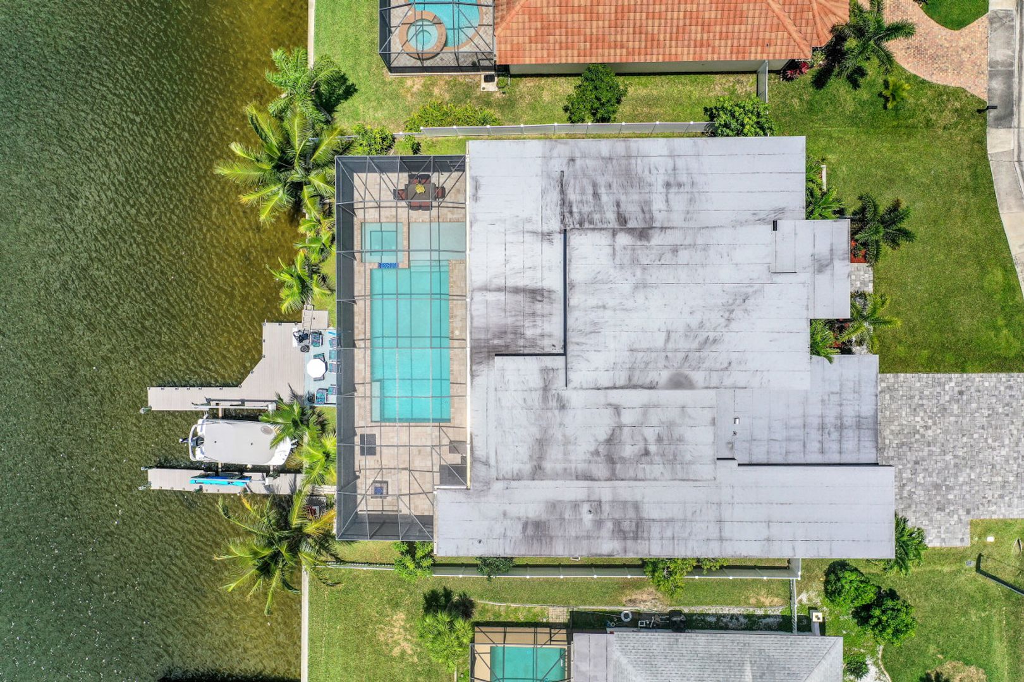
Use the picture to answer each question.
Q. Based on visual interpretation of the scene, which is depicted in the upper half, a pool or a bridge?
pool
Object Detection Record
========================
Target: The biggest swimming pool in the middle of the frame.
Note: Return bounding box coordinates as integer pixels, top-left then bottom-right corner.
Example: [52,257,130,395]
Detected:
[354,216,466,430]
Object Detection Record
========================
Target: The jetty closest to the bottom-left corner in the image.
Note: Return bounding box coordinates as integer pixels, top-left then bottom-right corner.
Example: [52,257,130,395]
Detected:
[148,468,305,495]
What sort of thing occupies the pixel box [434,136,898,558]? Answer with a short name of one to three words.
house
